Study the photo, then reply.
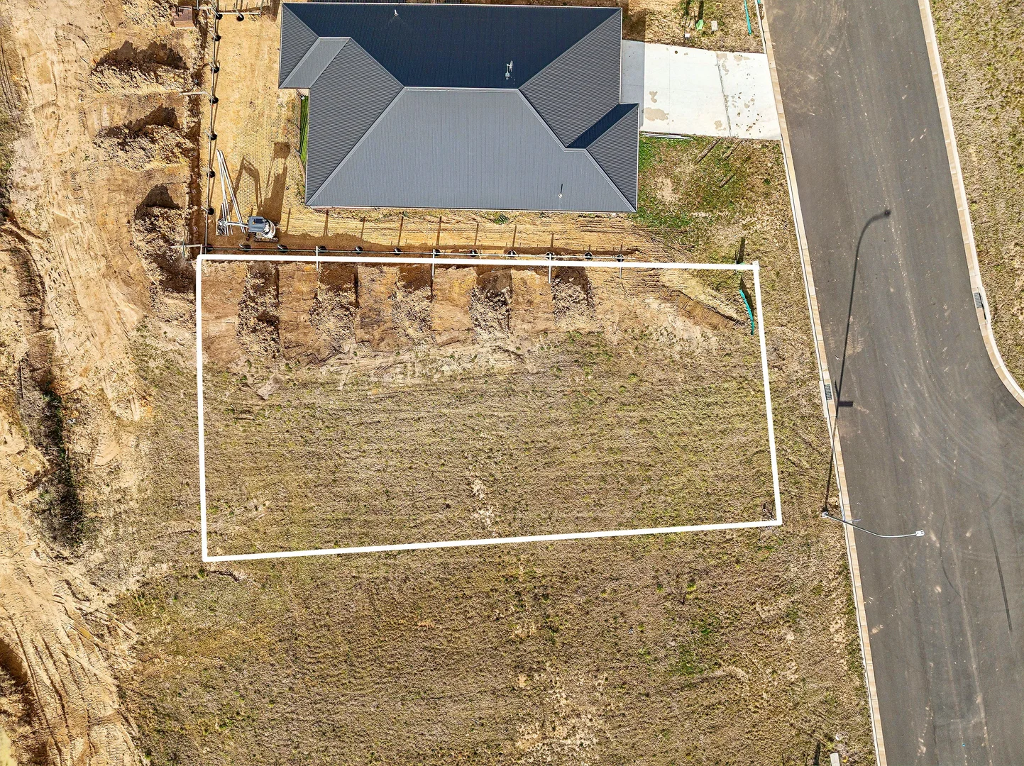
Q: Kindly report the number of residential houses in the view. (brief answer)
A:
1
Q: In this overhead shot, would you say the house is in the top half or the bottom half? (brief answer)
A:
top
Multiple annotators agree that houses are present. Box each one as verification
[278,2,640,214]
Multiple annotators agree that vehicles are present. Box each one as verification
[214,216,280,243]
